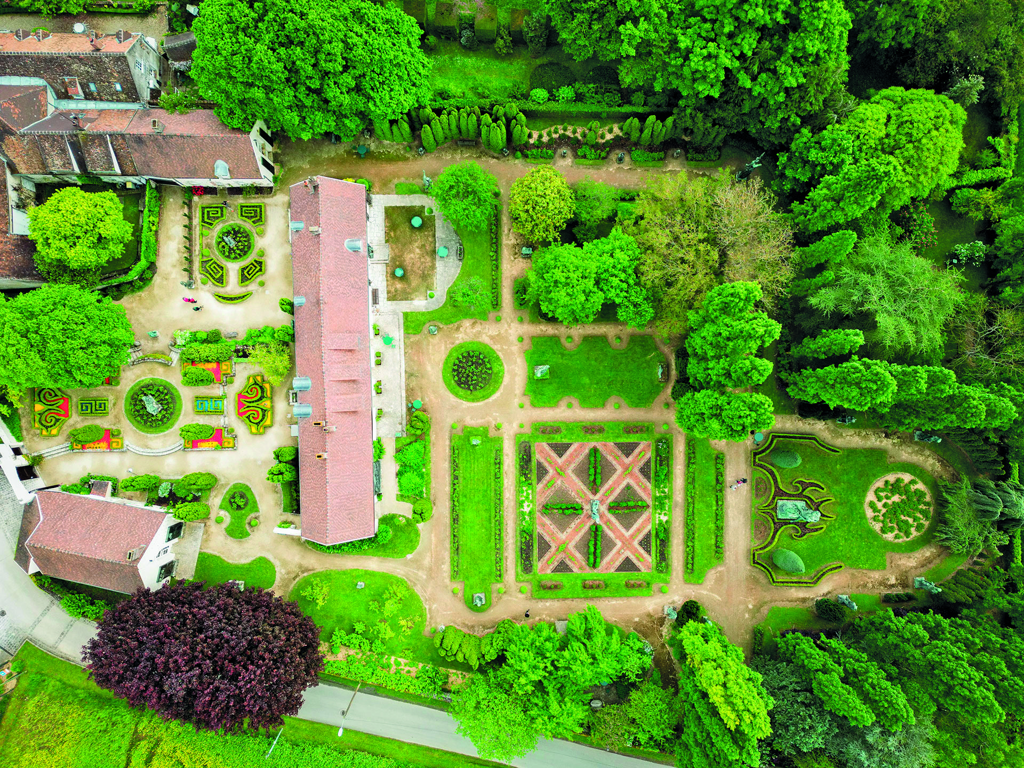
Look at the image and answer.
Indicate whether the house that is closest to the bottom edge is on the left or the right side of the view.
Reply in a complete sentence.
The house that is closest to the bottom edge appears in the left half of the scene.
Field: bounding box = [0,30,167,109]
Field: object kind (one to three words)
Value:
house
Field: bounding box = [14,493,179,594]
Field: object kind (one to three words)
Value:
house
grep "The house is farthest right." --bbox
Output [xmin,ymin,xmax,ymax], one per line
[289,175,378,546]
